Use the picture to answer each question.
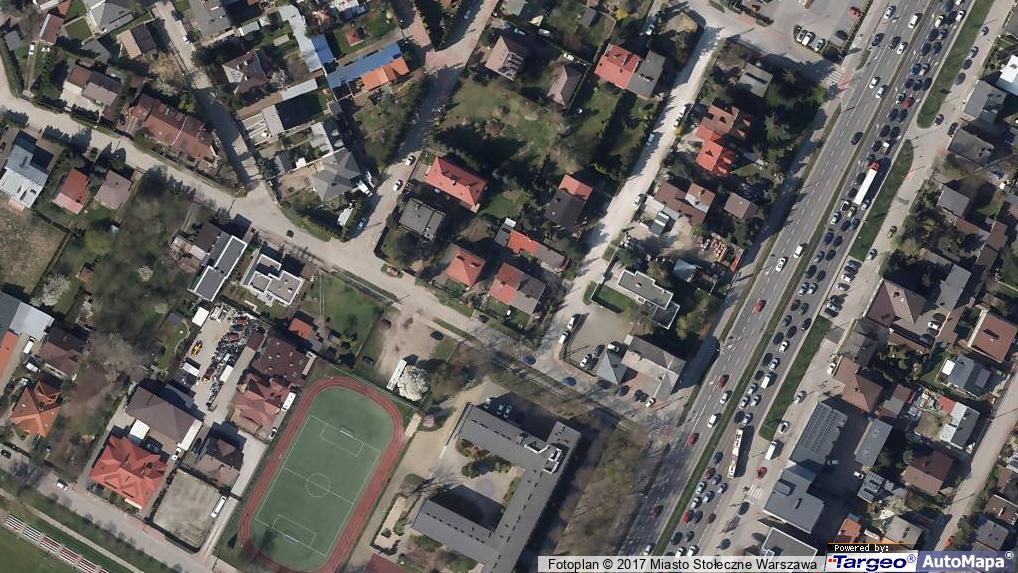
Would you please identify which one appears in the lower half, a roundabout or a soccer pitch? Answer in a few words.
soccer pitch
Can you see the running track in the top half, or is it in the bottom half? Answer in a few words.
bottom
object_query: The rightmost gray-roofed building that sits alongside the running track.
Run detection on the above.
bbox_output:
[413,404,582,573]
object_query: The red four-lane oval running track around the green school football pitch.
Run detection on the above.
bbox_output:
[241,379,400,573]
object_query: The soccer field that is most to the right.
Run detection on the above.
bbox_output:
[254,392,387,571]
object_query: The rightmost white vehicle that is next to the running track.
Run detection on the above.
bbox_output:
[387,360,406,390]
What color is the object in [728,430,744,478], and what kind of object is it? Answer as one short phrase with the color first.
white vehicle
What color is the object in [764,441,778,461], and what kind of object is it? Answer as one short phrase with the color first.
white vehicle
